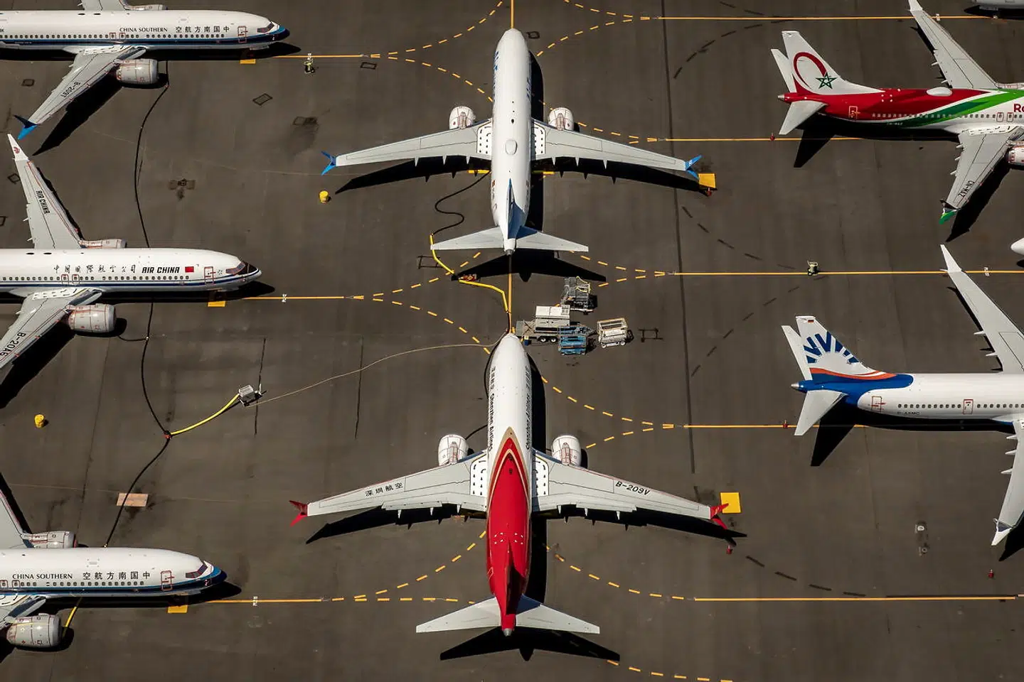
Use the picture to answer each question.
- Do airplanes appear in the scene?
Yes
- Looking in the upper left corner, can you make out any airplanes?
Yes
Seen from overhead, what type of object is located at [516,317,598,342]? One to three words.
trailer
